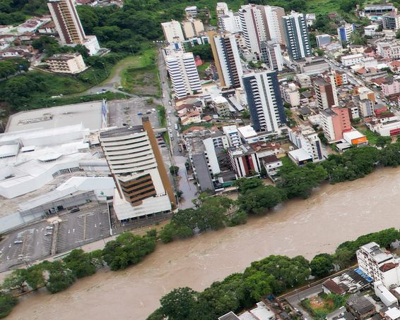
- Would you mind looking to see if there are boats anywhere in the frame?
No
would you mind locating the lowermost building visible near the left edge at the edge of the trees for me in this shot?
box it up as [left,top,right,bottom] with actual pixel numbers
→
[0,97,118,238]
